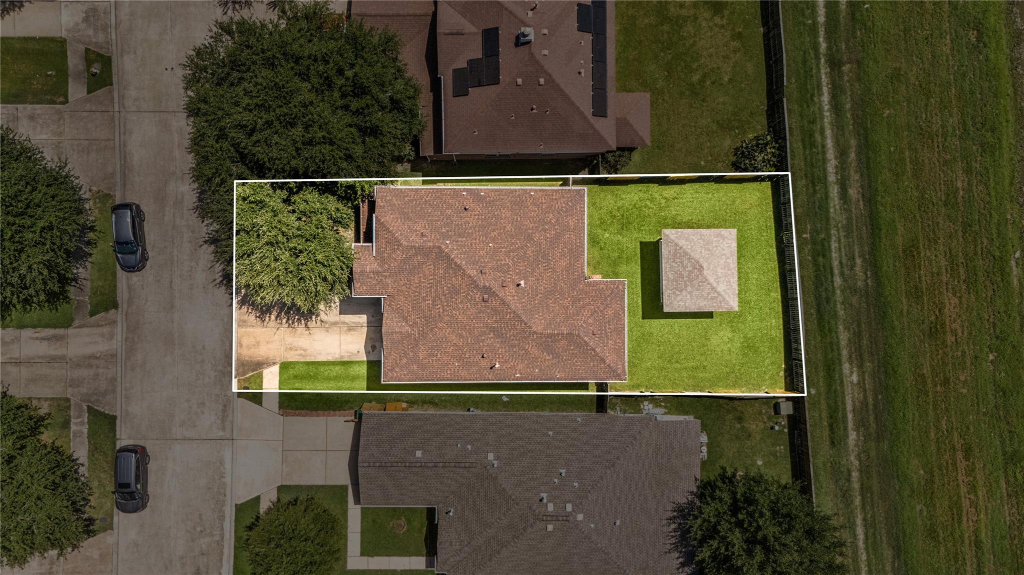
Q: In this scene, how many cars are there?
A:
2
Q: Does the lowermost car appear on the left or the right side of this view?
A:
left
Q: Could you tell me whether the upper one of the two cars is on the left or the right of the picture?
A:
left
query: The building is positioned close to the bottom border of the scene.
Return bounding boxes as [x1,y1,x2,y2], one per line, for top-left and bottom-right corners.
[354,398,700,575]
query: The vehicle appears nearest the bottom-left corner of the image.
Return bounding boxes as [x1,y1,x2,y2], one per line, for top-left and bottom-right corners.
[113,444,153,511]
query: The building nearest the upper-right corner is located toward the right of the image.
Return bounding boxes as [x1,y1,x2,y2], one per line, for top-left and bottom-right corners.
[654,227,739,313]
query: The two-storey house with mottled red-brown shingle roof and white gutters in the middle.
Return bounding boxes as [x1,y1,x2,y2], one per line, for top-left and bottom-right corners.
[350,187,627,383]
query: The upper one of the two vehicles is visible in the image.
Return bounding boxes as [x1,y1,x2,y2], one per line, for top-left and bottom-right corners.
[110,201,152,271]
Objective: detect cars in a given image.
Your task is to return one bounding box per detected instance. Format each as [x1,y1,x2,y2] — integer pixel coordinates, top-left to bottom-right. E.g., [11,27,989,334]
[110,201,152,271]
[113,444,153,511]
